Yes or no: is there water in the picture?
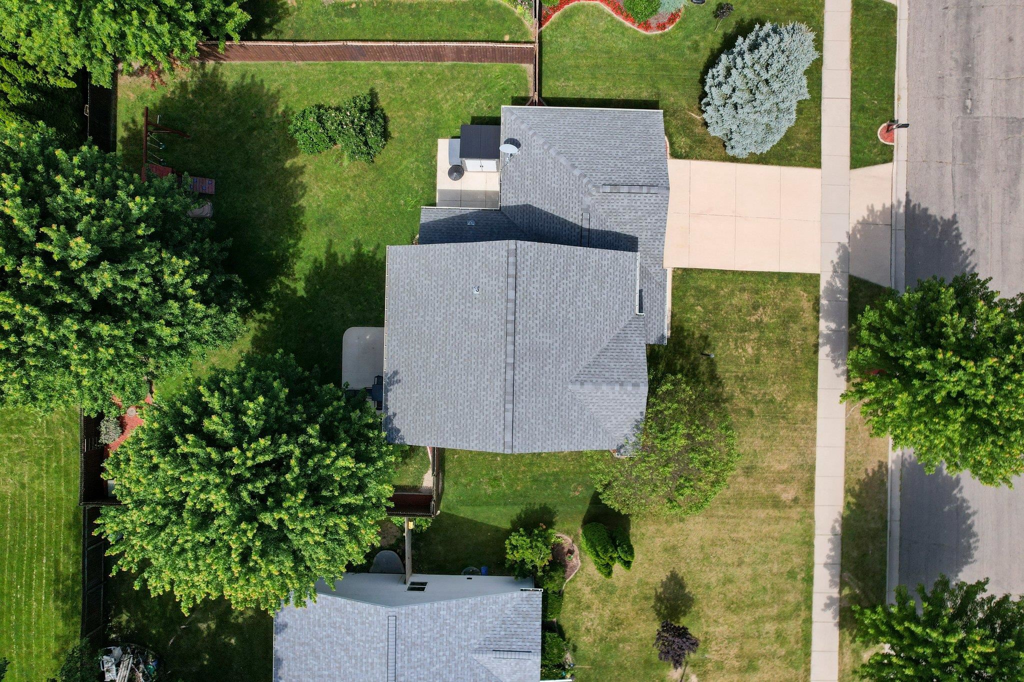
No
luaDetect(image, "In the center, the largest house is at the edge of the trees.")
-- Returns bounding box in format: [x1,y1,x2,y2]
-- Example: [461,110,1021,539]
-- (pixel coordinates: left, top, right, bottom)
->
[381,103,671,458]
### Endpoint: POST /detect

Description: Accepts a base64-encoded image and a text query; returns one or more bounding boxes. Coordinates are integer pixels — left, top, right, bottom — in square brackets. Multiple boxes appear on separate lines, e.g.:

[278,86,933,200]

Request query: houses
[270,575,544,682]
[381,103,671,458]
